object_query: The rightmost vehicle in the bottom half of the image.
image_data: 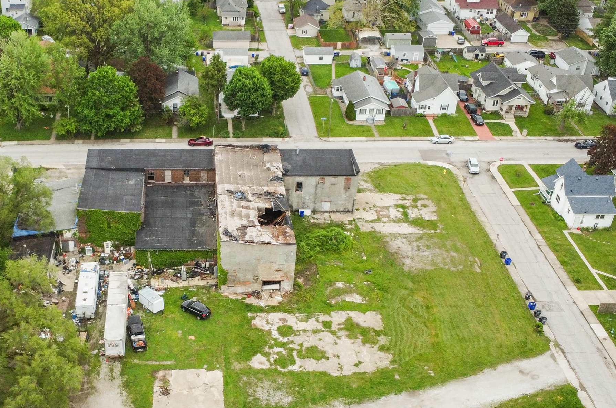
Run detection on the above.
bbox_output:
[180,299,214,322]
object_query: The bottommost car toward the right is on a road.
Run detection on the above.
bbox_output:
[464,158,482,174]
